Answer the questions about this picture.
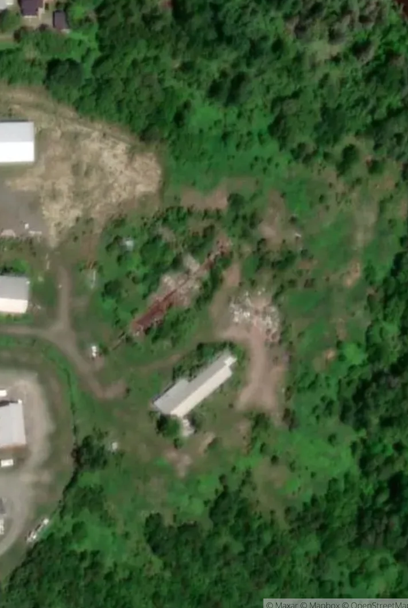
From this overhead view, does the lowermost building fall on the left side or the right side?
left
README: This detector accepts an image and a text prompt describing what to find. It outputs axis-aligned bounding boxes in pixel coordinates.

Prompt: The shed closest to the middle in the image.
[131,287,185,338]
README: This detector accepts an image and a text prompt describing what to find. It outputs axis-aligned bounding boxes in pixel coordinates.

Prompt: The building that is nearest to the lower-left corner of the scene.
[0,399,26,447]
